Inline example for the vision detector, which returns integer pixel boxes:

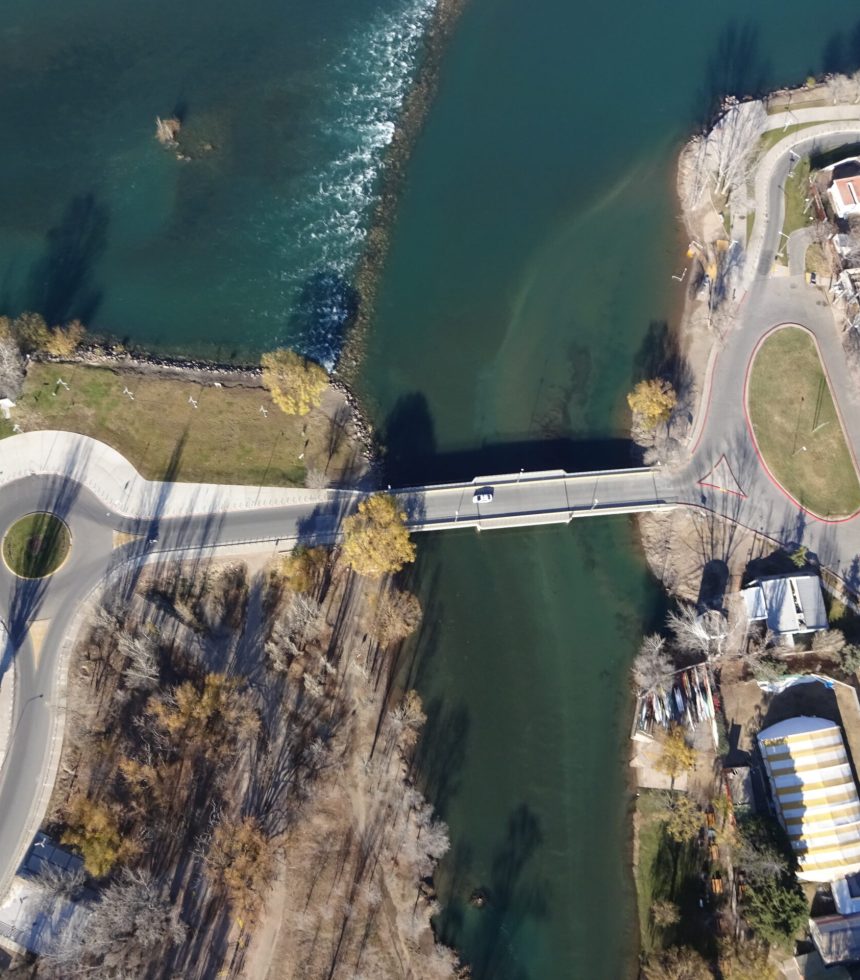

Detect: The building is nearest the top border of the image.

[820,176,860,227]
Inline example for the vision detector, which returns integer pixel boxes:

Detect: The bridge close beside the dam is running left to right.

[380,466,666,530]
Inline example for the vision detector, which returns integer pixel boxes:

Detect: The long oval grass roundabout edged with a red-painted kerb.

[747,323,860,522]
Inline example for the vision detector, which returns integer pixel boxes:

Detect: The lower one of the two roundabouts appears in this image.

[0,477,107,615]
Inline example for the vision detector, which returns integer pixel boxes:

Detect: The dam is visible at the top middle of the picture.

[340,0,463,370]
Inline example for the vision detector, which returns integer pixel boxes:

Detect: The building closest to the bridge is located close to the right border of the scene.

[738,576,829,635]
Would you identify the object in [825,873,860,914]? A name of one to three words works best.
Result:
house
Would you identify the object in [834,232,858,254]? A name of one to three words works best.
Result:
shed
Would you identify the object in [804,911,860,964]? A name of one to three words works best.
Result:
house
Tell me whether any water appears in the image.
Yes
